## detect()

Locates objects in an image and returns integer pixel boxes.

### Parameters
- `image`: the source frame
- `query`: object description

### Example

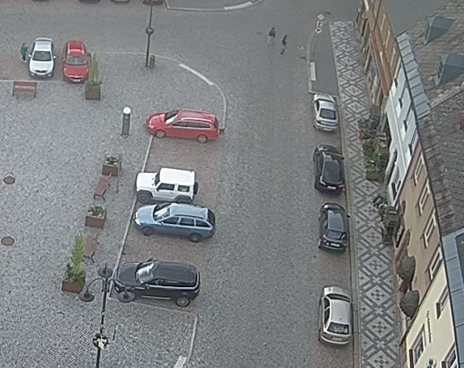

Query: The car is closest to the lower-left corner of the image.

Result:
[116,263,198,305]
